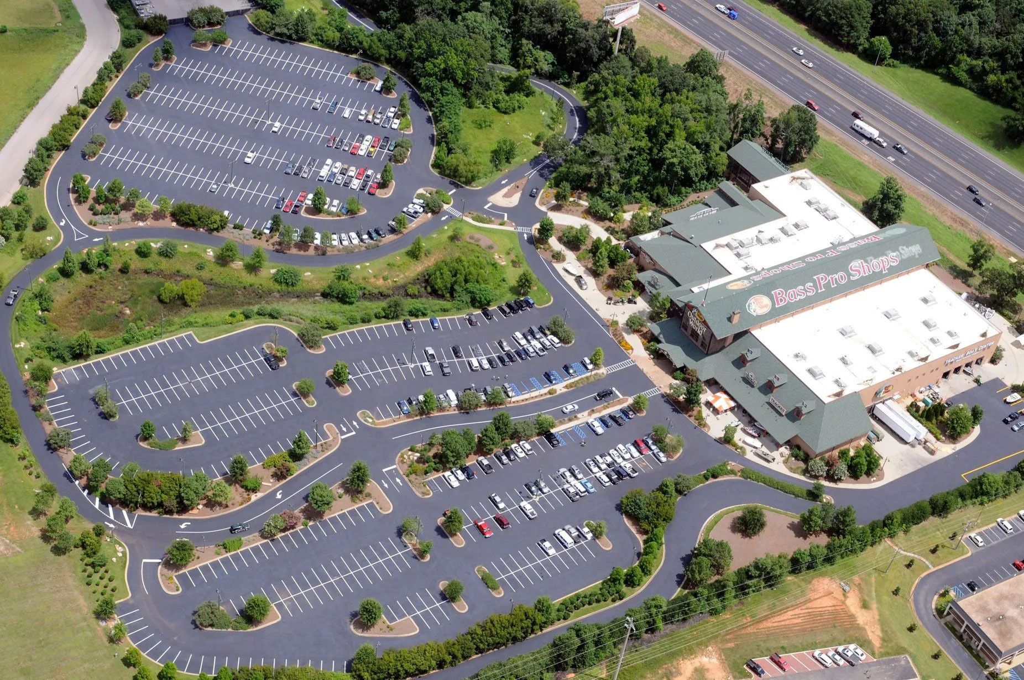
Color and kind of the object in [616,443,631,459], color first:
white car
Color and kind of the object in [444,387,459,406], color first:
white vehicle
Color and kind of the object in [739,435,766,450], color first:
white boat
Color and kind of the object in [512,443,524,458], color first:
white vehicle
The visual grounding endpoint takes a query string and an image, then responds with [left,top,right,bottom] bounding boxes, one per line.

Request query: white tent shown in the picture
[704,391,738,414]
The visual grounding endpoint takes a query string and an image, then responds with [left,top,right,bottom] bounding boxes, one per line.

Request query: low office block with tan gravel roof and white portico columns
[945,571,1024,671]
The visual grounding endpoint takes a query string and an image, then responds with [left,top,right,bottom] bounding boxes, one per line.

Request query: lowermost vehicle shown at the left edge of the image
[7,288,19,305]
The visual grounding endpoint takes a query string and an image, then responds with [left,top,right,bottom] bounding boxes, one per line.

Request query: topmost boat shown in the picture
[559,260,578,275]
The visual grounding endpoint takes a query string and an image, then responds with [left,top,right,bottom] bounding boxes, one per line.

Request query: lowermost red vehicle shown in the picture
[769,653,792,672]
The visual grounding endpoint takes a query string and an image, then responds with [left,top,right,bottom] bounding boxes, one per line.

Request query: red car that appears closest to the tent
[634,438,649,455]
